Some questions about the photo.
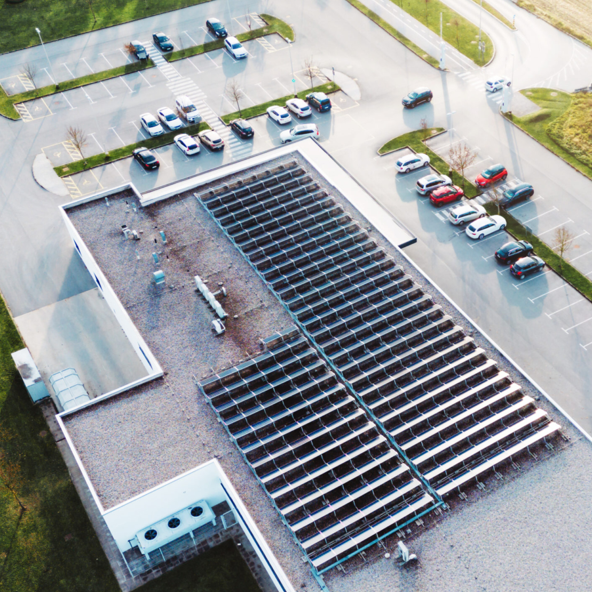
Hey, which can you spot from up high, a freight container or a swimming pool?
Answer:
freight container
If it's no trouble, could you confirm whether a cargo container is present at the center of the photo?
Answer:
No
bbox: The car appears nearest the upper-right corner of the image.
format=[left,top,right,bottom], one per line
[485,76,512,94]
